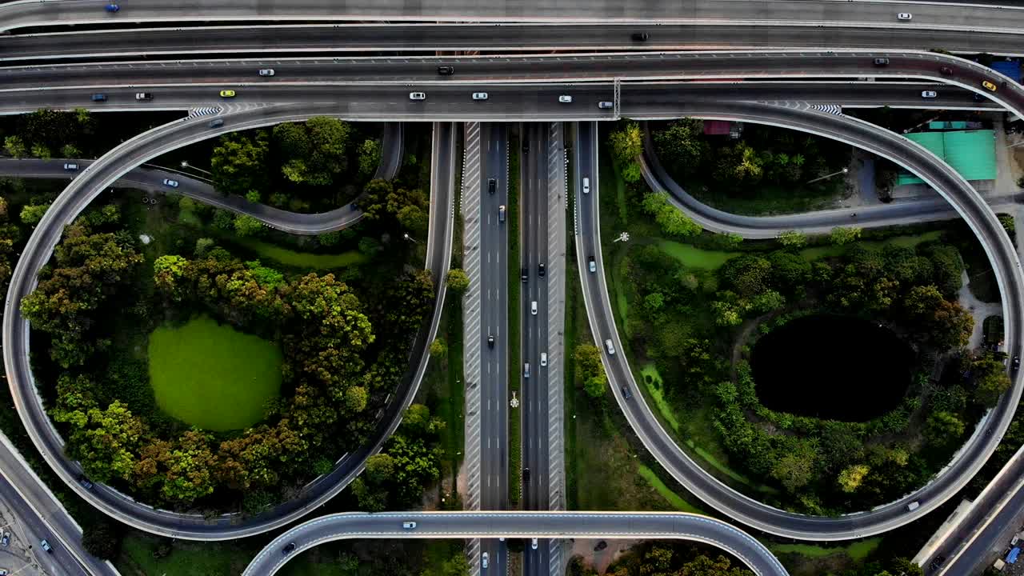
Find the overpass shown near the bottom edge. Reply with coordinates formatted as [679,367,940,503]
[243,509,788,576]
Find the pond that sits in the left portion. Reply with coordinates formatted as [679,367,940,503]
[149,317,283,431]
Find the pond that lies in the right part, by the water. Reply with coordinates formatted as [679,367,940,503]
[750,313,915,422]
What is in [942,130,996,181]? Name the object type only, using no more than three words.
building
